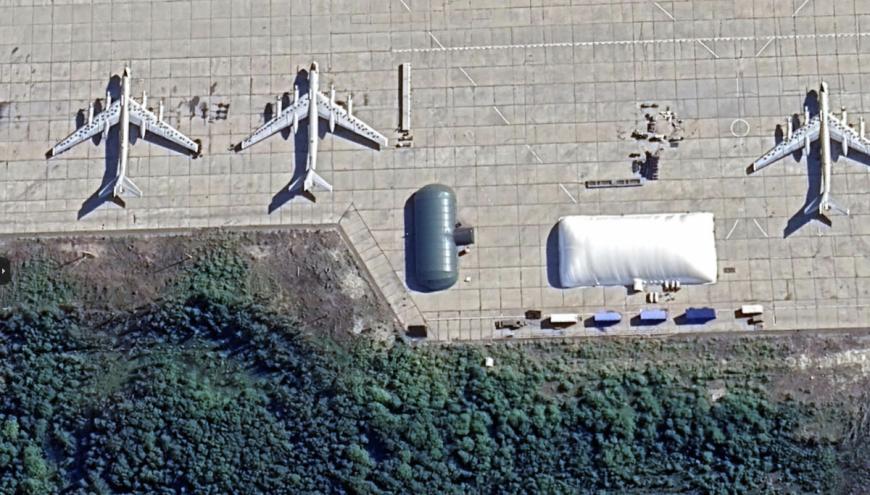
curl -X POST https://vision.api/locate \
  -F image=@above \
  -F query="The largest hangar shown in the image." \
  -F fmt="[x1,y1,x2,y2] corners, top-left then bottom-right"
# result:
[555,210,719,292]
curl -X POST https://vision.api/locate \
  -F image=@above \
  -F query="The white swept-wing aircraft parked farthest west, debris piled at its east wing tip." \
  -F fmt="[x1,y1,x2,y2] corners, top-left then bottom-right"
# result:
[54,68,198,197]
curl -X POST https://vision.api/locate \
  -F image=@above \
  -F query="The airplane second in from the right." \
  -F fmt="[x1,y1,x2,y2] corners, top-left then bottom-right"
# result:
[243,63,387,194]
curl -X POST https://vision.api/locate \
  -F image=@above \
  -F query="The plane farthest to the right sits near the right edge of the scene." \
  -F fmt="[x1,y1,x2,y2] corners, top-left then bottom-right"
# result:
[752,79,870,215]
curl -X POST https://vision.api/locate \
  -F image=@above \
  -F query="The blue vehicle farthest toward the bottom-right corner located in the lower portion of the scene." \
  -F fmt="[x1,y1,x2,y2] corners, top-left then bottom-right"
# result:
[686,307,719,319]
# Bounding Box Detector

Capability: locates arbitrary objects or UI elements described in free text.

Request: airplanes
[243,63,387,194]
[54,68,198,197]
[752,79,870,215]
